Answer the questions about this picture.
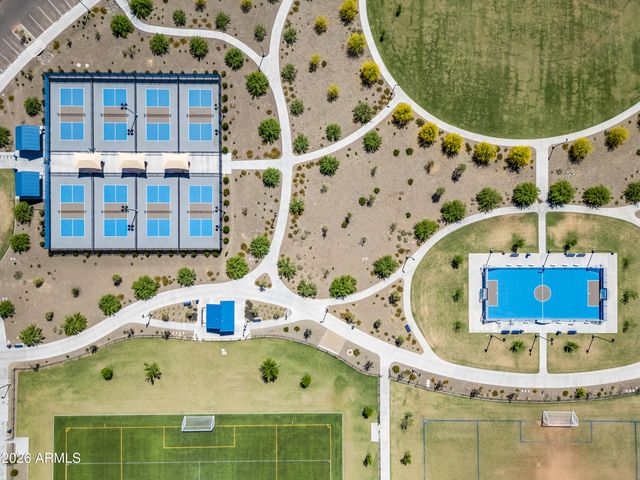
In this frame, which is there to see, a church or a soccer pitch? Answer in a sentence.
The image shows a soccer pitch.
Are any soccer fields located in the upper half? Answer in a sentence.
No, I see no soccer field in the upper half.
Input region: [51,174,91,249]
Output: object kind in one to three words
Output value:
sports court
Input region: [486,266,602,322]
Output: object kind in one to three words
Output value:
sports court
